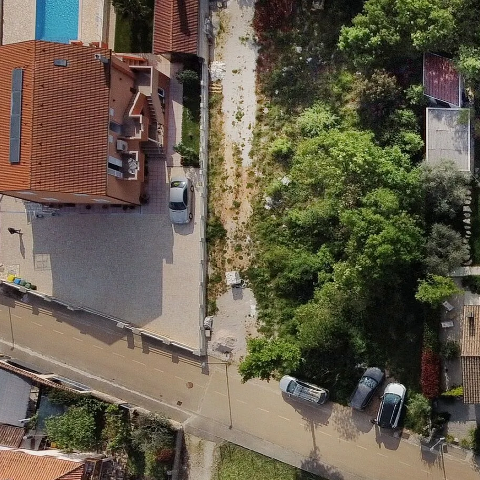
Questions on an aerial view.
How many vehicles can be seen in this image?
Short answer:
4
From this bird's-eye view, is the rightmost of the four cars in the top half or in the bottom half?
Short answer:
bottom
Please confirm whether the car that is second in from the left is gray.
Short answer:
Yes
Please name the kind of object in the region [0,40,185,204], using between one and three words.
house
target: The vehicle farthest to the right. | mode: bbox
[376,383,405,431]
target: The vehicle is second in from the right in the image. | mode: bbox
[350,369,381,414]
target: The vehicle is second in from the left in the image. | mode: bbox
[277,377,328,409]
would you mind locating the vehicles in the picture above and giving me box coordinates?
[166,177,191,224]
[350,369,381,414]
[376,383,405,431]
[277,377,328,409]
